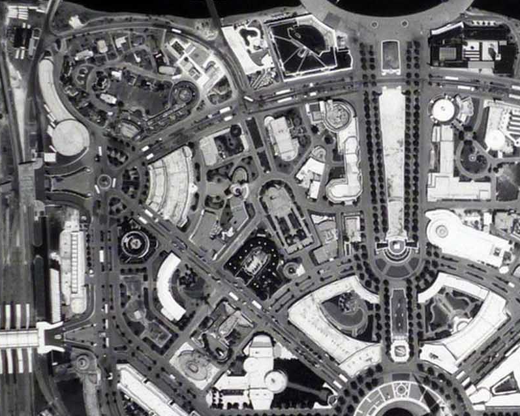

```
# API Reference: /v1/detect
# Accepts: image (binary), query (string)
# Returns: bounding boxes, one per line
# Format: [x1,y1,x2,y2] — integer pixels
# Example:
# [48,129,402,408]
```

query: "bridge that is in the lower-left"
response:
[0,330,39,348]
